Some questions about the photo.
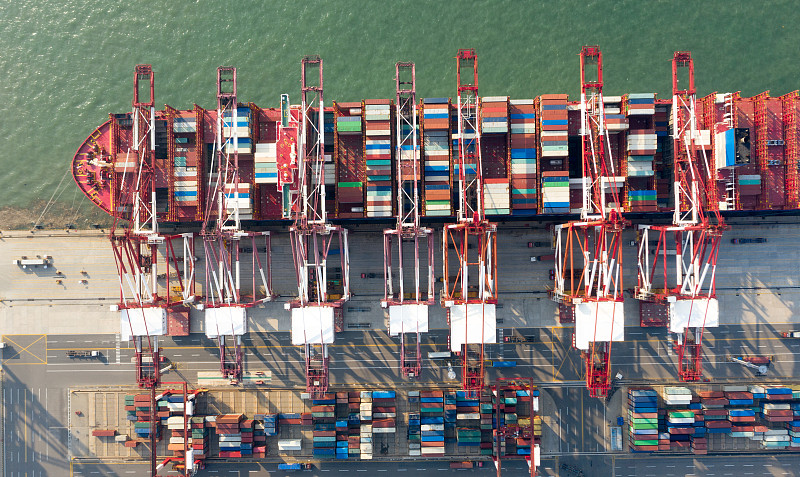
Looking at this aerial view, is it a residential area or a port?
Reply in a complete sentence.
This image shows a port.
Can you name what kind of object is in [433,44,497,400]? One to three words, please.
container crane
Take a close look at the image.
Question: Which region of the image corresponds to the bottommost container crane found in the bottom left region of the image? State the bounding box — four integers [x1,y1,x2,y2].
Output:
[151,380,217,477]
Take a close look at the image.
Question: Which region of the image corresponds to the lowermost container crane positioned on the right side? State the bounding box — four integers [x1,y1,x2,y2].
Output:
[484,379,540,477]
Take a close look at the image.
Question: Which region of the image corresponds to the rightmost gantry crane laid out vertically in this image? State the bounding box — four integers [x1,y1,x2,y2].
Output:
[617,48,727,386]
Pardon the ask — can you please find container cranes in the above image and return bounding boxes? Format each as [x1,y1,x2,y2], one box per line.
[107,60,216,393]
[617,48,727,386]
[193,62,285,390]
[151,380,217,477]
[484,379,540,477]
[284,51,357,401]
[378,58,434,383]
[433,44,497,400]
[536,41,625,404]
